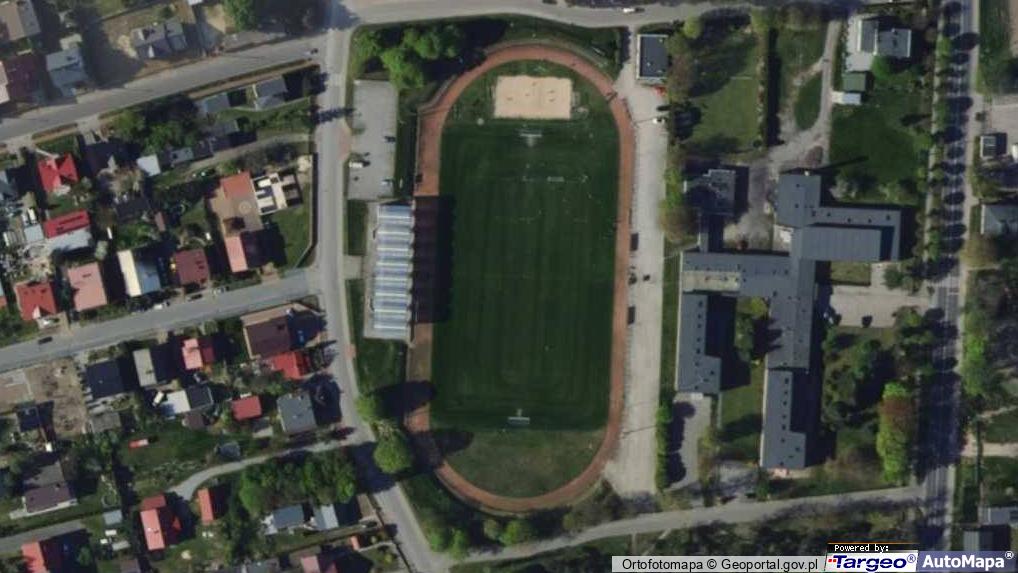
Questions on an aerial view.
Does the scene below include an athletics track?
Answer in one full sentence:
Yes, the picture does show an athletics track.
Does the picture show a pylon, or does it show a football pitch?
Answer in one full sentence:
The image shows a football pitch.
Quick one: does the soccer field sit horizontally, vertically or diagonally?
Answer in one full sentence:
In this picture, the soccer field is oriented vertically.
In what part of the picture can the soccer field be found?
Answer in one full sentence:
The soccer field sits in the center section of the image.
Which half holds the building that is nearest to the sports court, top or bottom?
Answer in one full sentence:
The building that is nearest to the sports court is in the top half of the image.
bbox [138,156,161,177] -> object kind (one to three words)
building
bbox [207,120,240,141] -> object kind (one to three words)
shed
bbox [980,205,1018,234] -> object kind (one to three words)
house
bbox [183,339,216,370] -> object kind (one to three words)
house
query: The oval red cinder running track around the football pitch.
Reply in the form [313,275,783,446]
[404,44,634,511]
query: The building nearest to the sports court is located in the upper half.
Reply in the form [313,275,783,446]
[636,34,669,81]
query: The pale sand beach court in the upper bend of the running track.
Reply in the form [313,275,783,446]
[494,75,572,118]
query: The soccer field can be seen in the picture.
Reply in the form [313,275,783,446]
[428,60,621,497]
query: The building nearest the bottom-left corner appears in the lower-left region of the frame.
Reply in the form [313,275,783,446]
[22,536,70,573]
